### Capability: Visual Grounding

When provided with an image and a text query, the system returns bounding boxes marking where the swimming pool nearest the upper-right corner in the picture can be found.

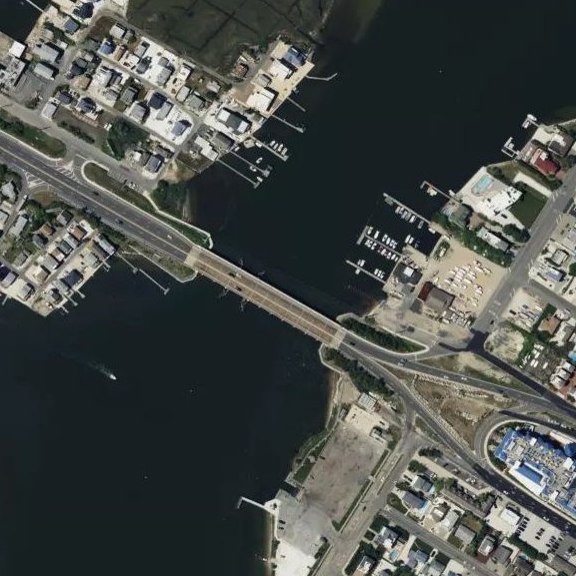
[475,171,493,192]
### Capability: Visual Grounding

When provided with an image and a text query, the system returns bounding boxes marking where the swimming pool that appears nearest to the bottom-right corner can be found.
[517,465,542,486]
